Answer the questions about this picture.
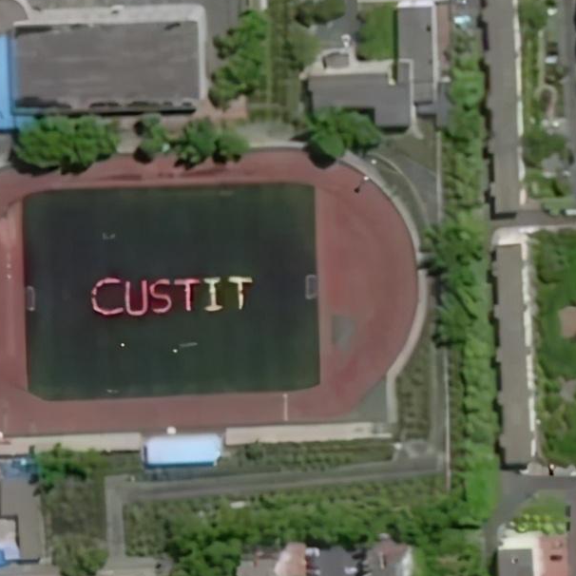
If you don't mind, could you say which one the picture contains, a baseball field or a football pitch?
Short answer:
football pitch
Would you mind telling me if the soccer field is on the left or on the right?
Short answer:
left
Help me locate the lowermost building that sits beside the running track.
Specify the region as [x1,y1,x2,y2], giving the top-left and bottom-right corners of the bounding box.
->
[0,474,47,562]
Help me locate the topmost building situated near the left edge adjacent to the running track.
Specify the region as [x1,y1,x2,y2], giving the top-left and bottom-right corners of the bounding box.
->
[16,1,207,114]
